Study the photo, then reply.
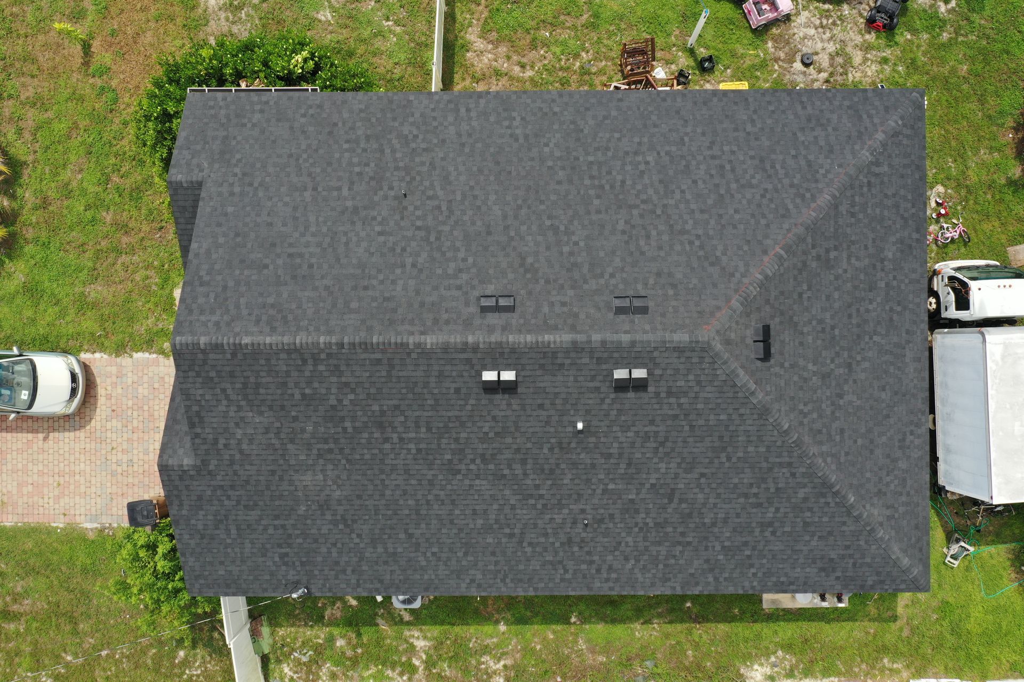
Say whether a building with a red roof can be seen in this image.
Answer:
No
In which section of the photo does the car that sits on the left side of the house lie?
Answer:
left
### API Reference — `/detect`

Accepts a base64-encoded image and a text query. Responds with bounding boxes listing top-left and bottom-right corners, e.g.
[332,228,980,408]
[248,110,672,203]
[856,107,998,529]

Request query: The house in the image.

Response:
[158,85,931,608]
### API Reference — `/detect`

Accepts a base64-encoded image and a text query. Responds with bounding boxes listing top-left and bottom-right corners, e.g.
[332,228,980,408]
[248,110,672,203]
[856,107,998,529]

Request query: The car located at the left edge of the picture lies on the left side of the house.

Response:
[0,344,85,424]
